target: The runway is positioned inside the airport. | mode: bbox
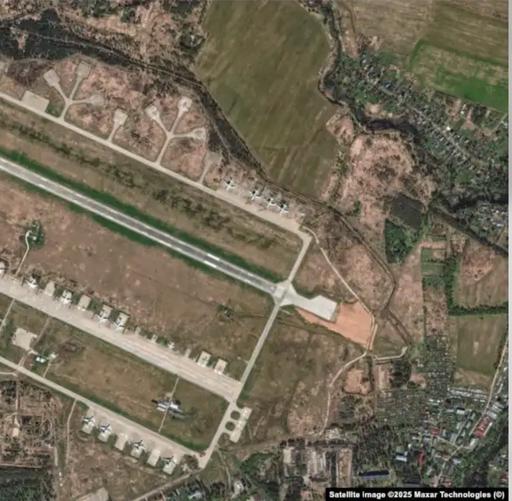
[0,157,276,294]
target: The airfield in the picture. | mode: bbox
[0,62,336,501]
